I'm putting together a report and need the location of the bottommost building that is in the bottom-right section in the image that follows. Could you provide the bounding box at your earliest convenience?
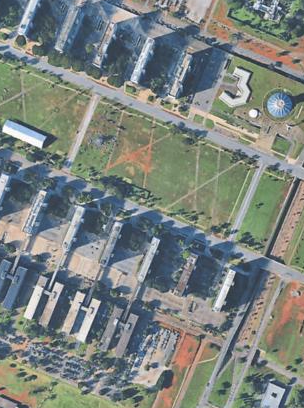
[261,382,286,408]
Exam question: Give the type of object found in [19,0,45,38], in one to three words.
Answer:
building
